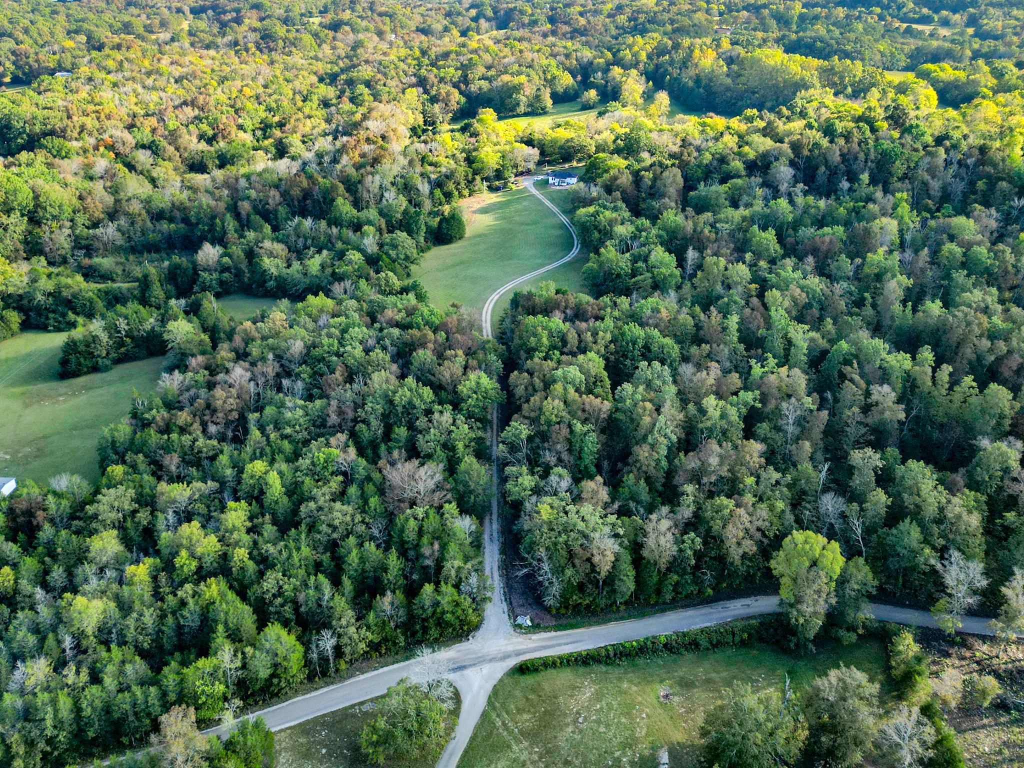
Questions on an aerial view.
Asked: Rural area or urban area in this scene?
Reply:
rural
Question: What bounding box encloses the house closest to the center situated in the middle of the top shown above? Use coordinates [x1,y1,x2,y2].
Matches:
[545,169,579,187]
